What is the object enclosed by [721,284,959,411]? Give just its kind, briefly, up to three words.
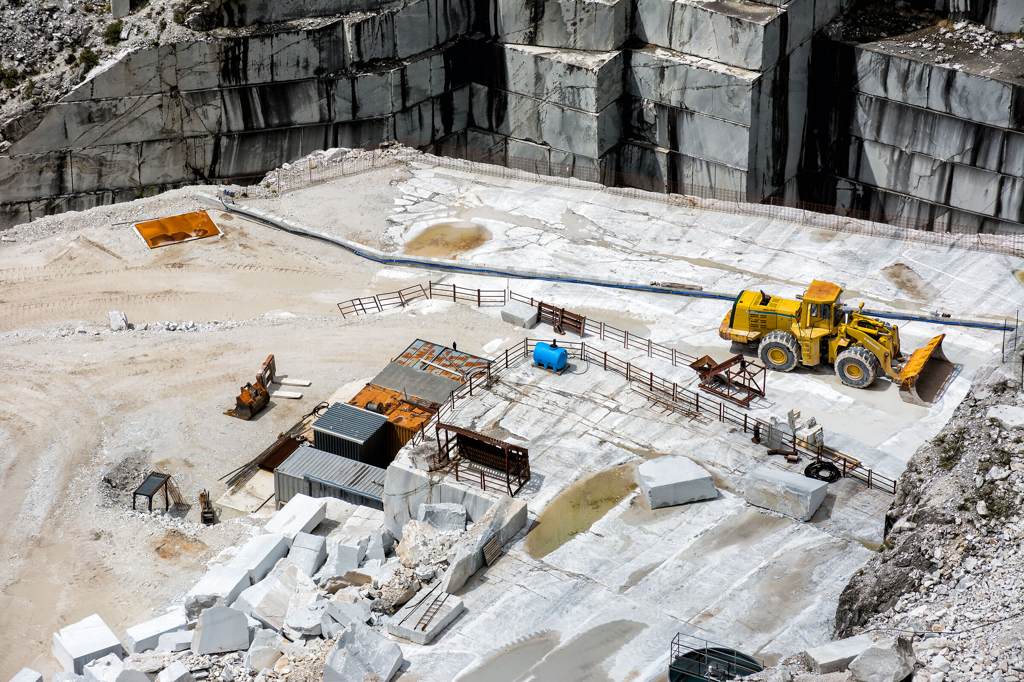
work vehicle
